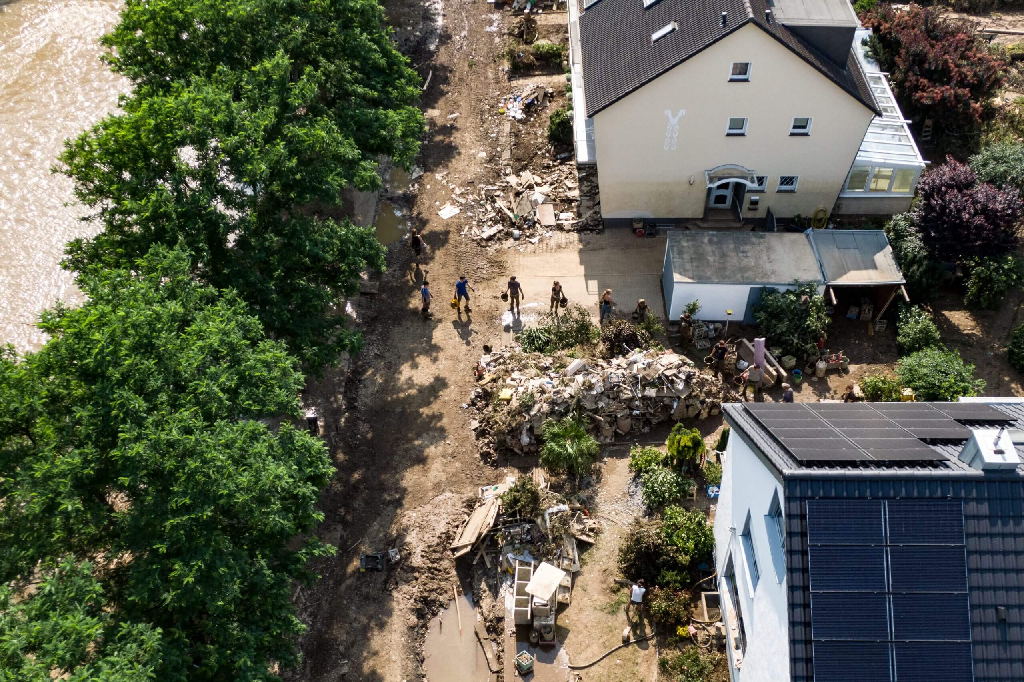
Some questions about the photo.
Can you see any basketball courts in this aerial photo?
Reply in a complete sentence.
No, the picture doesn't show any basketball court.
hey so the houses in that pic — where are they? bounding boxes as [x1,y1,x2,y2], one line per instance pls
[702,392,1024,682]
[576,0,889,229]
